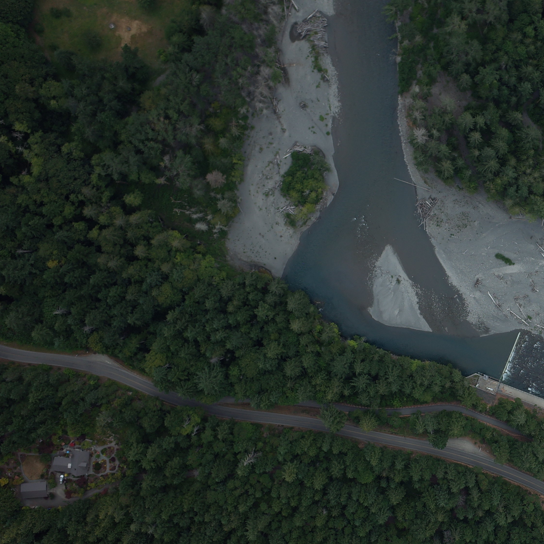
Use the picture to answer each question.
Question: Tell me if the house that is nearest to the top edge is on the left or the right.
left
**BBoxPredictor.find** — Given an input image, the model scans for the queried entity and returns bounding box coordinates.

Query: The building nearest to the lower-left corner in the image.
[19,481,49,498]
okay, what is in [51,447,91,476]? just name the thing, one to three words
house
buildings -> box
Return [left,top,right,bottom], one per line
[51,447,91,476]
[19,481,49,498]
